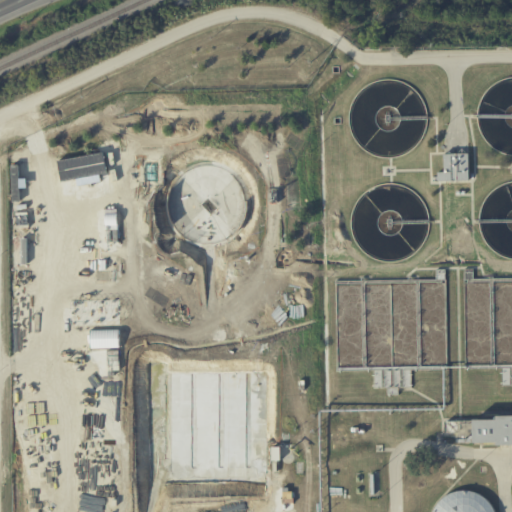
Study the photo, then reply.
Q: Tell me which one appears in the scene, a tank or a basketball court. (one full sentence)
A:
There is a tank in the scene.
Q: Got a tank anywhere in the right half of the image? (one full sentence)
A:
Yes, I can see a tank in the right half of the image.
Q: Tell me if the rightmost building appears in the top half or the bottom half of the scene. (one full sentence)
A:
You can find the rightmost building in the bottom half.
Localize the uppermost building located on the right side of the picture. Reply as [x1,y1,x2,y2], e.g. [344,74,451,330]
[431,154,469,180]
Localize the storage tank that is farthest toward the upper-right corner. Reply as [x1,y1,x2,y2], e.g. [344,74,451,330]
[478,77,512,156]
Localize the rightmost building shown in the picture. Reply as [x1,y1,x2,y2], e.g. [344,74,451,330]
[472,416,512,446]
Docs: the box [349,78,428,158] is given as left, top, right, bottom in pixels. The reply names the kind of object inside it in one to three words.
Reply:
storage tank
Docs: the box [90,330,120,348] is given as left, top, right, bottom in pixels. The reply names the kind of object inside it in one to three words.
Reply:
building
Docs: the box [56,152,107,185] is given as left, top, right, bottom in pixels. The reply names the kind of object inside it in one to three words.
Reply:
barn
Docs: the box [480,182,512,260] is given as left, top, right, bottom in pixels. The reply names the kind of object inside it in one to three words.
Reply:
storage tank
